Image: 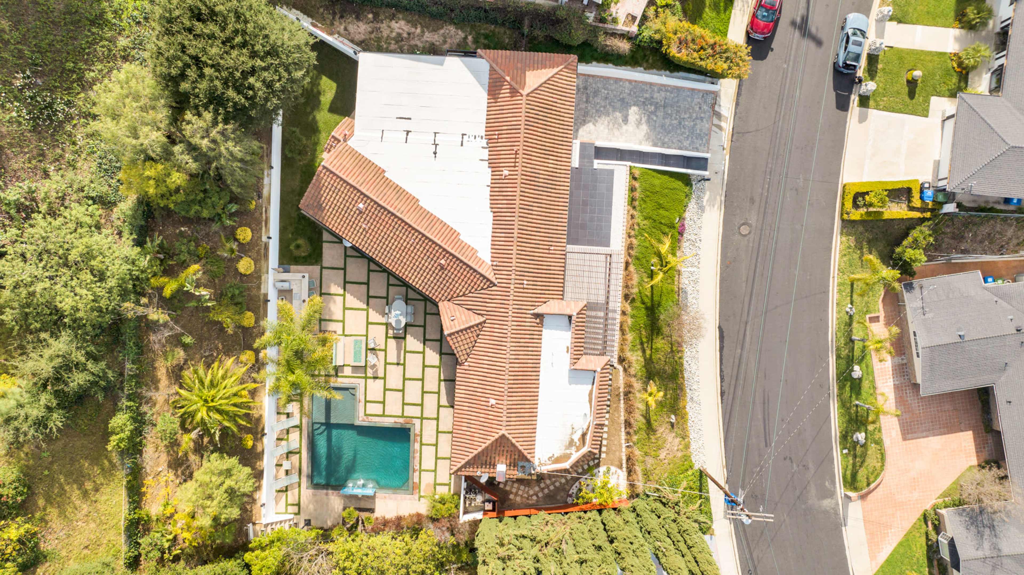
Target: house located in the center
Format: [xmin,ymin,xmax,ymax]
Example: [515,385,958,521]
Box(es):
[297,48,610,479]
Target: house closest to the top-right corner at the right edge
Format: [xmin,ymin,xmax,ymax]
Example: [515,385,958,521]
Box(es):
[926,0,1024,200]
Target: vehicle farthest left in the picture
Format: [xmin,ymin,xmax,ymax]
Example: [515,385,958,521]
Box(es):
[747,0,780,39]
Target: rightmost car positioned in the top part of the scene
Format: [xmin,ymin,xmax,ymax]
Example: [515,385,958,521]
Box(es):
[837,14,872,73]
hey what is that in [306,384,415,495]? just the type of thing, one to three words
swimming pool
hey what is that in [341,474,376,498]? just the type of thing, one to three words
fountain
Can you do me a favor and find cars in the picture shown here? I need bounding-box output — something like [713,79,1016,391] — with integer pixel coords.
[747,0,780,39]
[837,14,872,73]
